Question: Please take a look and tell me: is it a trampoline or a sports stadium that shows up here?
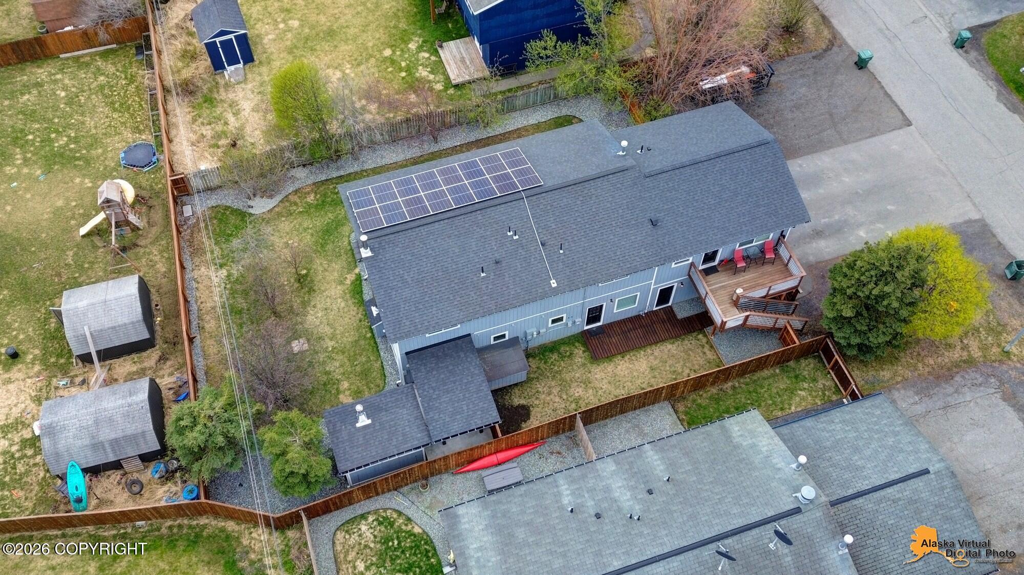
trampoline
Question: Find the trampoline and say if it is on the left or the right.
left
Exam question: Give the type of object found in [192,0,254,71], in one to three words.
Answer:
shed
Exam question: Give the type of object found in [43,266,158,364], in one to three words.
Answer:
shed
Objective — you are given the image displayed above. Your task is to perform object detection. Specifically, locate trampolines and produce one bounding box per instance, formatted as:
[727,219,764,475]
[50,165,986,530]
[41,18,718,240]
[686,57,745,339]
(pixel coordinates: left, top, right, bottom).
[119,139,160,176]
